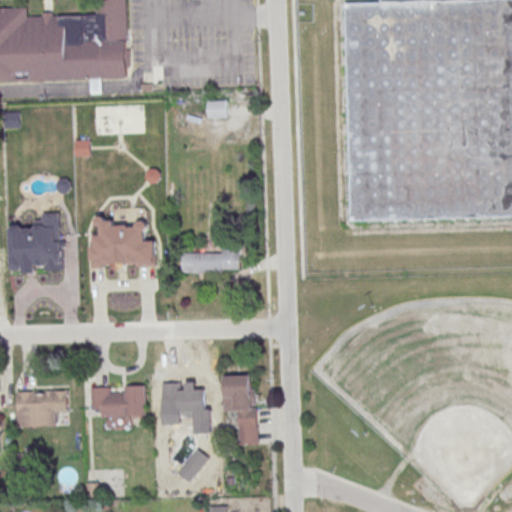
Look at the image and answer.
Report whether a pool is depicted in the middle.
No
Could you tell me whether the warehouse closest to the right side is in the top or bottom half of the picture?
top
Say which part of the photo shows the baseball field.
bottom right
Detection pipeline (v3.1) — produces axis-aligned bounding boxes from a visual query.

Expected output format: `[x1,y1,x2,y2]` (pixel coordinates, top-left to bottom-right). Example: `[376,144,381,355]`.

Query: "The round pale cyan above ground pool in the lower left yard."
[58,465,80,495]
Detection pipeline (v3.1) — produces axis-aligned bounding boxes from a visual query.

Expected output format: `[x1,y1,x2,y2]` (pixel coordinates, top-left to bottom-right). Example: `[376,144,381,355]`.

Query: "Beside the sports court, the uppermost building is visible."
[0,0,131,96]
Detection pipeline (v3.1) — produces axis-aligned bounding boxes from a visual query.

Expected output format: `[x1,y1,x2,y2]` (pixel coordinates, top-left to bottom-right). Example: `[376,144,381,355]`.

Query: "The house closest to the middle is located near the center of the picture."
[182,250,242,272]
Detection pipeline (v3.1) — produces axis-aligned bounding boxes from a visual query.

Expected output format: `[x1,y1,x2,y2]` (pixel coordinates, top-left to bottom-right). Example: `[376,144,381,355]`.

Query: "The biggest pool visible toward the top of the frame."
[30,178,60,196]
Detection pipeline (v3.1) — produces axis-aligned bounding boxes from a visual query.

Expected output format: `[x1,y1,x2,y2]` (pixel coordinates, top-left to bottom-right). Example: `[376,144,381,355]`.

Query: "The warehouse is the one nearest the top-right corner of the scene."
[346,0,512,218]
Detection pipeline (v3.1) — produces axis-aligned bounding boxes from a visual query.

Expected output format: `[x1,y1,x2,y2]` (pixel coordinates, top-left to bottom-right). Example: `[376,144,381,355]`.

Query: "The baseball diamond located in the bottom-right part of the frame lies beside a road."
[314,297,512,511]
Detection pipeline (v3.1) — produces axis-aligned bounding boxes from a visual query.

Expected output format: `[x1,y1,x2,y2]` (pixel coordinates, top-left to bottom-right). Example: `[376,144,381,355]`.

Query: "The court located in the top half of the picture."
[96,105,146,136]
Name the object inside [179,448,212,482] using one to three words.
building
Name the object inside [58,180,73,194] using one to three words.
gazebo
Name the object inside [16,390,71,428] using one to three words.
house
